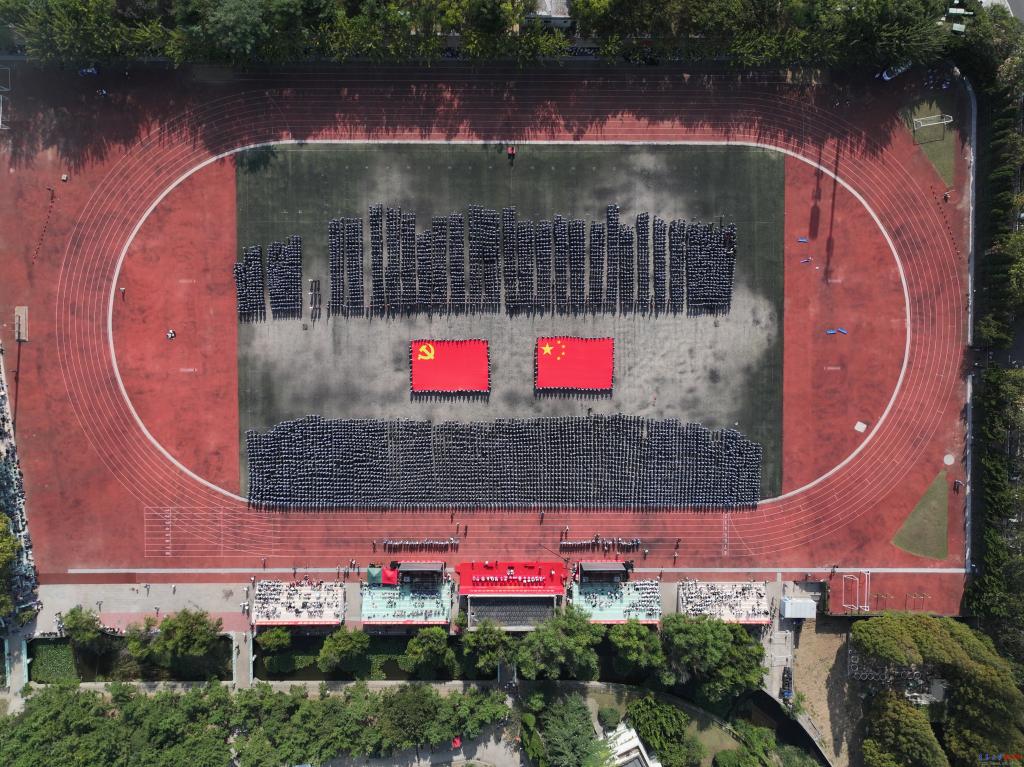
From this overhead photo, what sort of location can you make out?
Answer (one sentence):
It's a sports ground.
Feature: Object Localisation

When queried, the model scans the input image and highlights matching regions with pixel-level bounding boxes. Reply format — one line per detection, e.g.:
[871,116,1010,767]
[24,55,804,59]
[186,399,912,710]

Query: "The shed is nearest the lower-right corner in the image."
[920,672,946,701]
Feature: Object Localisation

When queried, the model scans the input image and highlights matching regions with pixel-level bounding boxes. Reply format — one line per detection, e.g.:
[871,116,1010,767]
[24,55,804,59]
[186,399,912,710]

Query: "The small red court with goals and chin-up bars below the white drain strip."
[829,574,966,617]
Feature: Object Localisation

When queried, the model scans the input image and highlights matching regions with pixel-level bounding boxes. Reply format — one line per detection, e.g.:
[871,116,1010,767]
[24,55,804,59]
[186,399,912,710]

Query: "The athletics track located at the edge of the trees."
[58,81,961,558]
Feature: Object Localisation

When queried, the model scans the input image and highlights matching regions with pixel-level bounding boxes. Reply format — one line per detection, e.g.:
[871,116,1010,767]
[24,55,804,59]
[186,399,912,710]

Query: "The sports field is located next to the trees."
[111,144,907,504]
